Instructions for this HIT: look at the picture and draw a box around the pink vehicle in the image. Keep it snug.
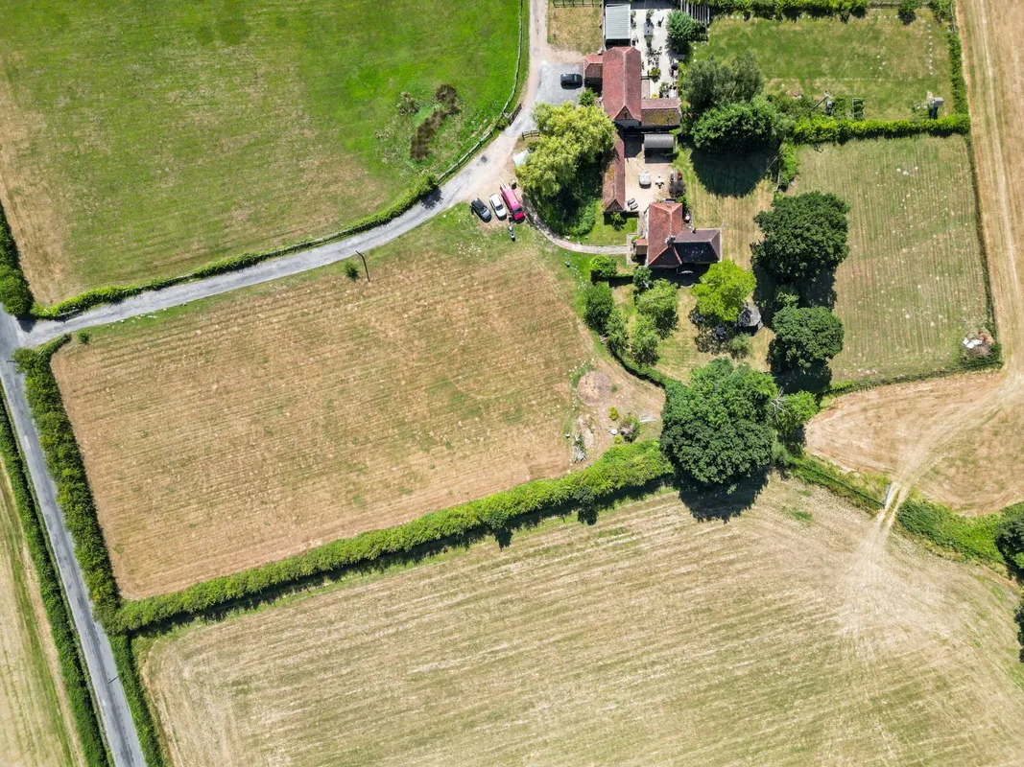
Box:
[501,186,523,221]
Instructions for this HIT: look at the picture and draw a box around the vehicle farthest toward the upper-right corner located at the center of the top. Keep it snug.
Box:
[560,73,583,87]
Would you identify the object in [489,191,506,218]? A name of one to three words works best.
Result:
car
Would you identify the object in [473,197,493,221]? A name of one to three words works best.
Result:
car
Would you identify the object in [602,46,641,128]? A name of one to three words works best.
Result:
barn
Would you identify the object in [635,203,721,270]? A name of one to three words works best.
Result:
house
